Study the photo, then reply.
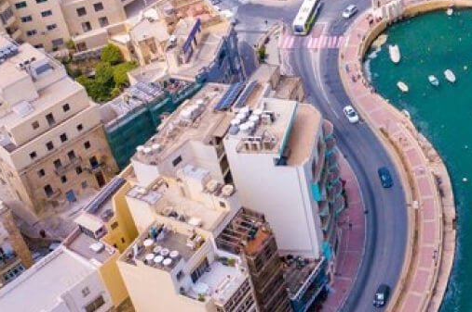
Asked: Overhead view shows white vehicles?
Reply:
Yes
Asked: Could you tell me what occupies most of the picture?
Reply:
buildings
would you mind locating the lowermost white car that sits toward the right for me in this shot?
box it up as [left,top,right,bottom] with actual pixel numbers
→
[344,105,357,121]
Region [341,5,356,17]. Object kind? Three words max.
vehicle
